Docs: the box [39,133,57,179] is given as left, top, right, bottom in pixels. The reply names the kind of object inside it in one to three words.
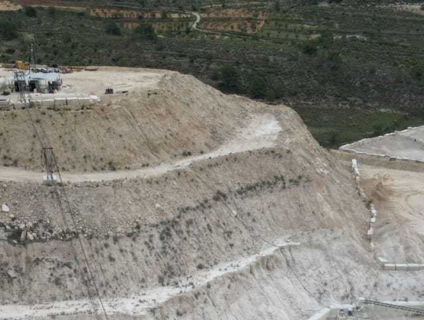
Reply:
pylon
